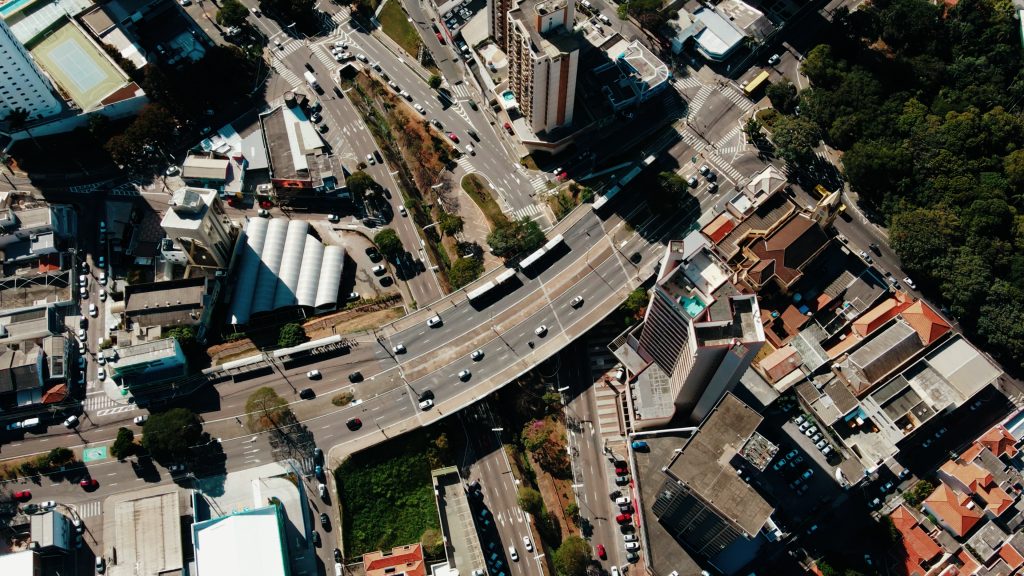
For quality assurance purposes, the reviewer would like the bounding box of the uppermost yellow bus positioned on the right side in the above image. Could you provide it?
[741,72,770,99]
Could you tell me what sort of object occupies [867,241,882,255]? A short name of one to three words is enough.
car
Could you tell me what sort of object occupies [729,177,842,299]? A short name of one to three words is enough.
building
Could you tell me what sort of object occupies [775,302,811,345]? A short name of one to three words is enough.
house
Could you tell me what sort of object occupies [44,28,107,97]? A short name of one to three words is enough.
tennis court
